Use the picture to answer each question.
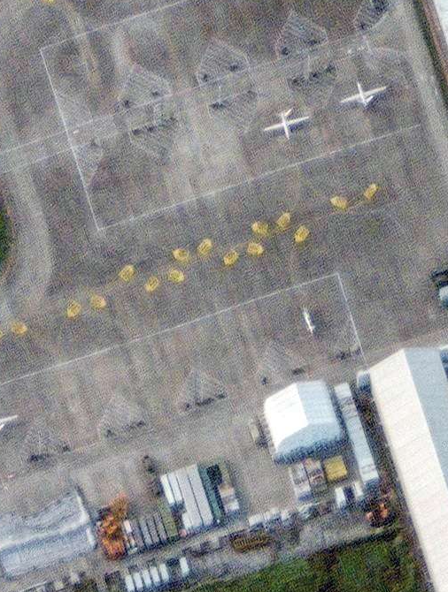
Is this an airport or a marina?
airport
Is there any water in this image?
No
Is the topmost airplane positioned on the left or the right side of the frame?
right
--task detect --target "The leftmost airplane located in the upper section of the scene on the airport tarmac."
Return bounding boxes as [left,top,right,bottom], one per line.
[261,110,308,139]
